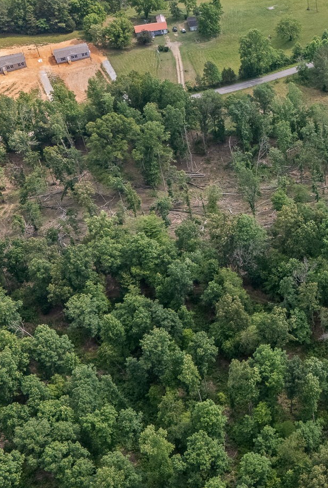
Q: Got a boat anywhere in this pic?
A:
No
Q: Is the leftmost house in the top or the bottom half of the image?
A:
top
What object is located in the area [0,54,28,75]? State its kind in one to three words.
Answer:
house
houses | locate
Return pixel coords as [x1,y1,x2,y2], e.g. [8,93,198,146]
[0,54,28,75]
[52,44,91,64]
[135,15,167,36]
